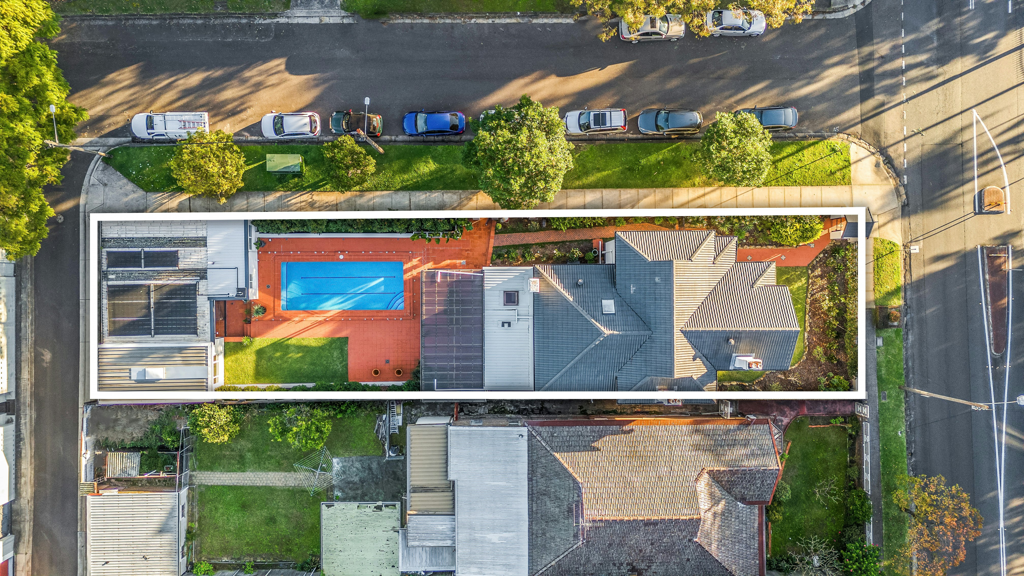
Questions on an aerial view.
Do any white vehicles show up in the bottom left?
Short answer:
No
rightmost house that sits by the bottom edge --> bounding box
[525,419,783,576]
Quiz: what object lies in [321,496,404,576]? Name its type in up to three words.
shed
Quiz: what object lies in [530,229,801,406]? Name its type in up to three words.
house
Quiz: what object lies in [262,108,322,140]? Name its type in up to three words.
car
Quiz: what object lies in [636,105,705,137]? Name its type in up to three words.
car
